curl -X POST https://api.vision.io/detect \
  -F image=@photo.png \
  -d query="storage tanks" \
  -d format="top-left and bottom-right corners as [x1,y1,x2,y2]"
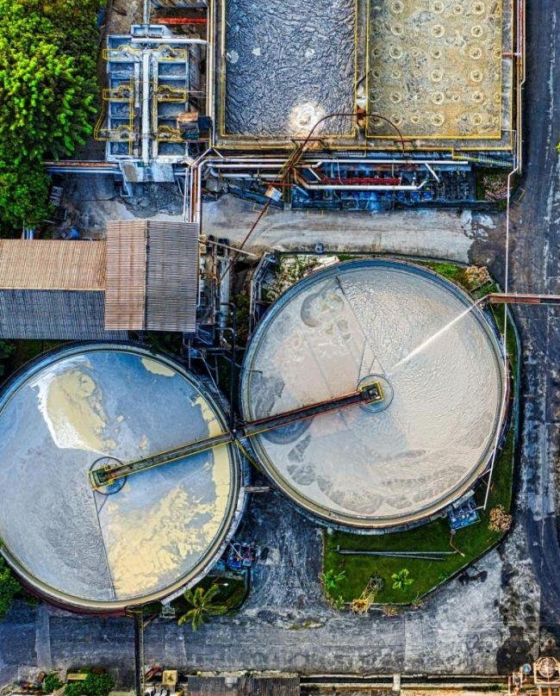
[0,341,256,613]
[242,261,508,528]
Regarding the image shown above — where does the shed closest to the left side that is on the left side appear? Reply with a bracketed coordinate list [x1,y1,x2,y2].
[0,239,127,339]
